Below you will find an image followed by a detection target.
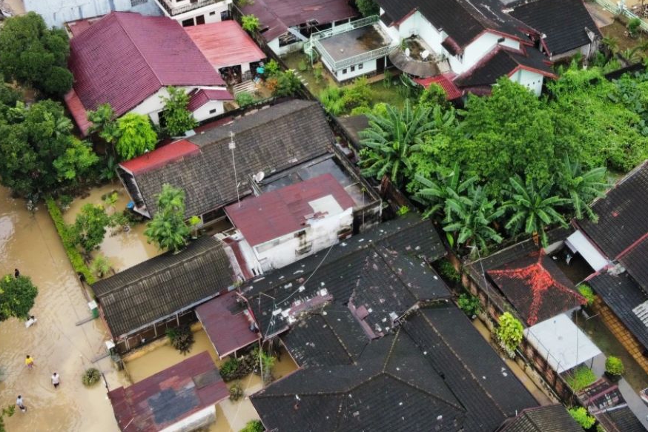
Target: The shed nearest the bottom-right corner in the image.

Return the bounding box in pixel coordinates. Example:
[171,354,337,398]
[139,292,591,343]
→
[594,403,644,432]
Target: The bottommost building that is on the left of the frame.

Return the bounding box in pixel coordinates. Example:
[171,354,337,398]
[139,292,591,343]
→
[109,353,229,432]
